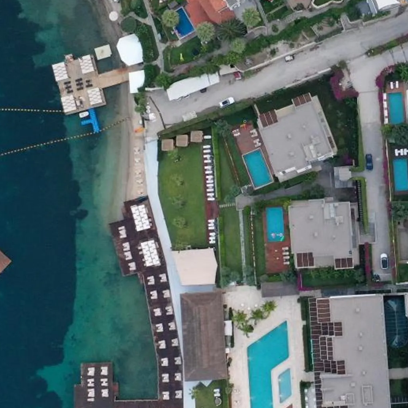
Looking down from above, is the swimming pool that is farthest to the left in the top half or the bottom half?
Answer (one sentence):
The swimming pool that is farthest to the left sits in the top half of the picture.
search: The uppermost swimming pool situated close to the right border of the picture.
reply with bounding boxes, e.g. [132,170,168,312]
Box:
[386,91,405,125]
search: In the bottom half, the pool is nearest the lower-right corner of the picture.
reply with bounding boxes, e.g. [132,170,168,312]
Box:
[279,368,291,405]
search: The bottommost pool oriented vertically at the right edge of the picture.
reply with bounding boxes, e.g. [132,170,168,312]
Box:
[392,157,408,192]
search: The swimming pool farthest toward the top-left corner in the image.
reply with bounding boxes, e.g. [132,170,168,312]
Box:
[171,6,195,40]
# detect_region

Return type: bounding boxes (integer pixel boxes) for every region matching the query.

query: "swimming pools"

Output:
[267,206,285,243]
[242,147,274,191]
[392,157,408,192]
[279,368,291,405]
[386,91,405,125]
[246,318,290,408]
[171,6,195,40]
